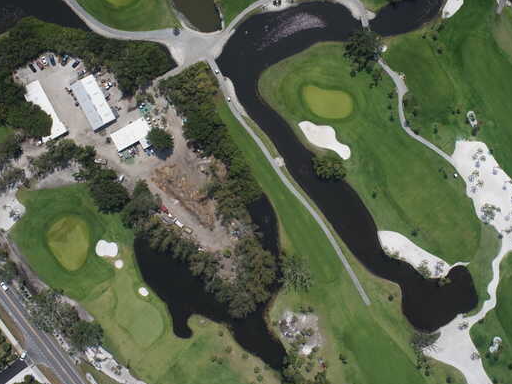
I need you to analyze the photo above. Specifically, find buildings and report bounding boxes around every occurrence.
[70,74,118,130]
[110,117,150,151]
[24,80,69,139]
